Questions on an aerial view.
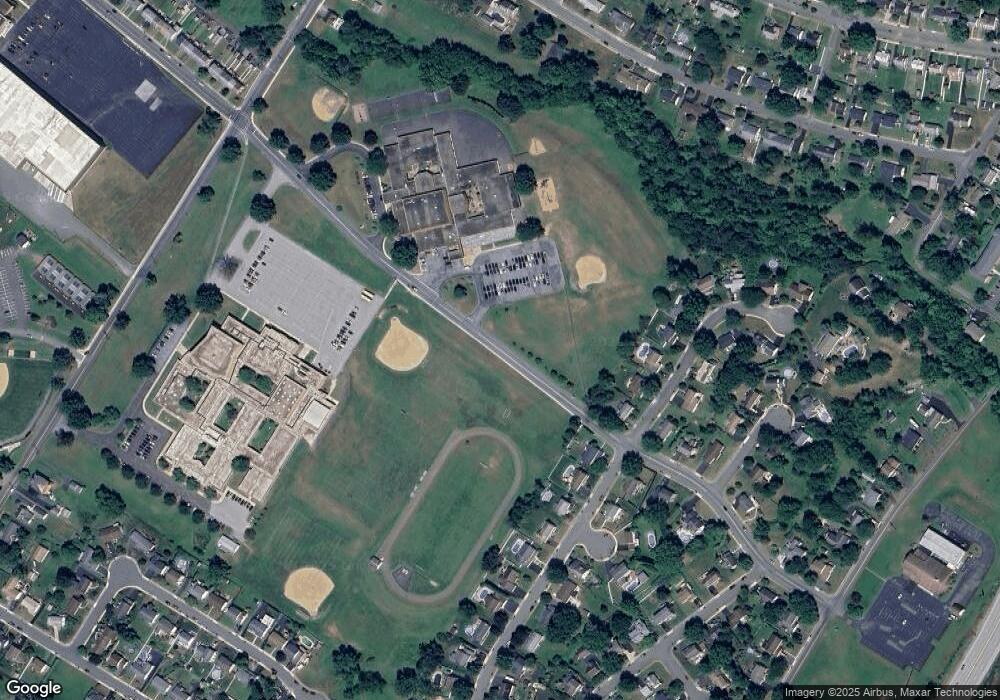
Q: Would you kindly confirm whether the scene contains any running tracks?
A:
Yes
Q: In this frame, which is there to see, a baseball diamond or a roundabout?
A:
baseball diamond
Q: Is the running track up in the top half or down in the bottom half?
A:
bottom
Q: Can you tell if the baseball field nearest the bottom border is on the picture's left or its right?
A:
left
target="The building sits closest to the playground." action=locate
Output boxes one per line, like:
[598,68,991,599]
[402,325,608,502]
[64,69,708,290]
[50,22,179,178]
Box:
[382,129,523,265]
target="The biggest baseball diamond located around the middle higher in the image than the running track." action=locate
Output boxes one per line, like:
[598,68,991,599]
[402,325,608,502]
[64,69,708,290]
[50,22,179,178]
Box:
[376,307,430,373]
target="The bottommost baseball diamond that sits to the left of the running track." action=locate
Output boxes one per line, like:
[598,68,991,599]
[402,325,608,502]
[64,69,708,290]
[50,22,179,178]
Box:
[284,566,334,620]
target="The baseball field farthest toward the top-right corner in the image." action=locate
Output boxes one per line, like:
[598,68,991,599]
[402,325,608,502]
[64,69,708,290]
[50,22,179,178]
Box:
[572,255,607,293]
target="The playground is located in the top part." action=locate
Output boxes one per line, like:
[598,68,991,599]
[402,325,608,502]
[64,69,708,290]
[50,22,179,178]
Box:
[537,178,559,211]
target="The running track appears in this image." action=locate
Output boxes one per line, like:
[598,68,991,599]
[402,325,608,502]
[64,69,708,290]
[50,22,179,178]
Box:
[381,422,525,604]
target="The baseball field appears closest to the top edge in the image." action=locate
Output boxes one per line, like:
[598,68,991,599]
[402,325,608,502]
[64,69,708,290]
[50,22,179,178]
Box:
[312,78,348,121]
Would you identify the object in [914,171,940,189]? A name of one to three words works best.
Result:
house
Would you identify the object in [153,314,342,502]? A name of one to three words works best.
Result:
building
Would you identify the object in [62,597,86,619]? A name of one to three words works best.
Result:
house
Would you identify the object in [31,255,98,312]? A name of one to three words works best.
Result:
building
